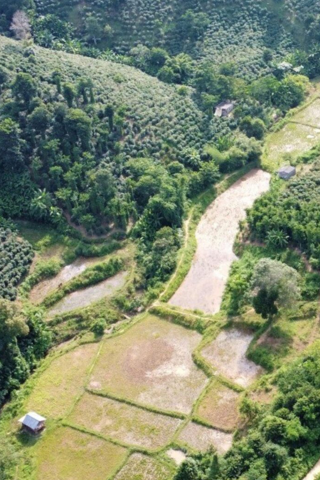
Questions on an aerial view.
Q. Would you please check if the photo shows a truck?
No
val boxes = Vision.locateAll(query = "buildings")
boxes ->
[275,167,297,182]
[214,103,237,119]
[16,411,44,438]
